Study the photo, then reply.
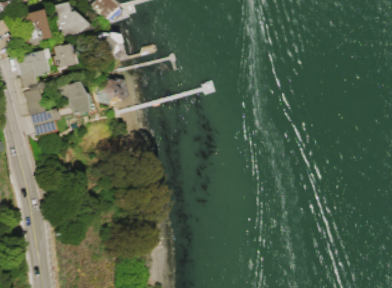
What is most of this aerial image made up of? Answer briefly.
water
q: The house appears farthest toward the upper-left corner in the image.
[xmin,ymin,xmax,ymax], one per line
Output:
[27,10,51,46]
